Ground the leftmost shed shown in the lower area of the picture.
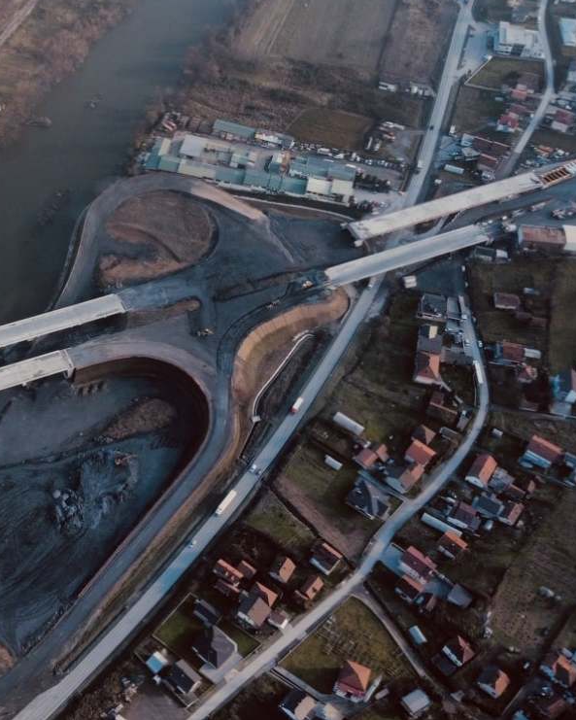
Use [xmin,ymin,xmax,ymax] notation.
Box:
[147,651,166,673]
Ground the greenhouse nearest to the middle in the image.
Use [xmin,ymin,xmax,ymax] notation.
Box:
[331,413,367,440]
